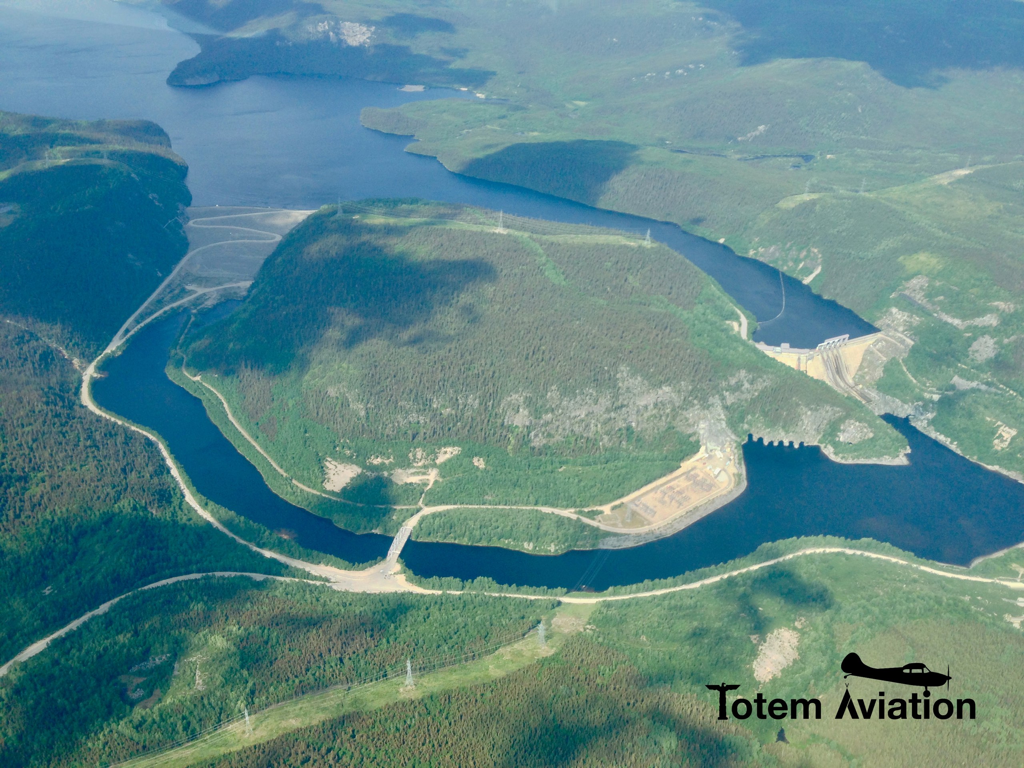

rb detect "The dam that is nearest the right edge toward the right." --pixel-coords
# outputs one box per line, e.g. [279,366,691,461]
[750,328,886,403]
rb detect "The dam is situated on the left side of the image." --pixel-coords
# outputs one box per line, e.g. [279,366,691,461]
[172,204,313,306]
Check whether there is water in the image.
Yes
